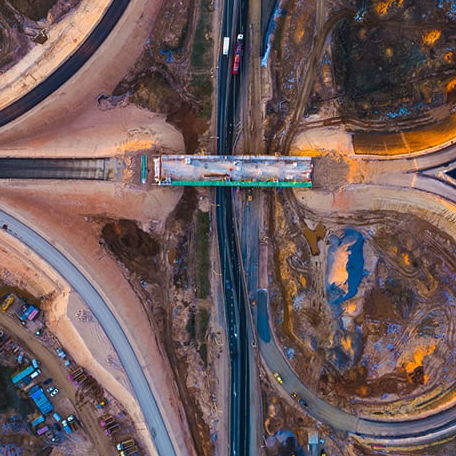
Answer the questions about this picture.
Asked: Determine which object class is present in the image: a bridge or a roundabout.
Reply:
bridge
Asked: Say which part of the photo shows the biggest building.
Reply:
bottom left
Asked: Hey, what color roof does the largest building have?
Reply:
blue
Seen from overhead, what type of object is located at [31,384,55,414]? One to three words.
building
